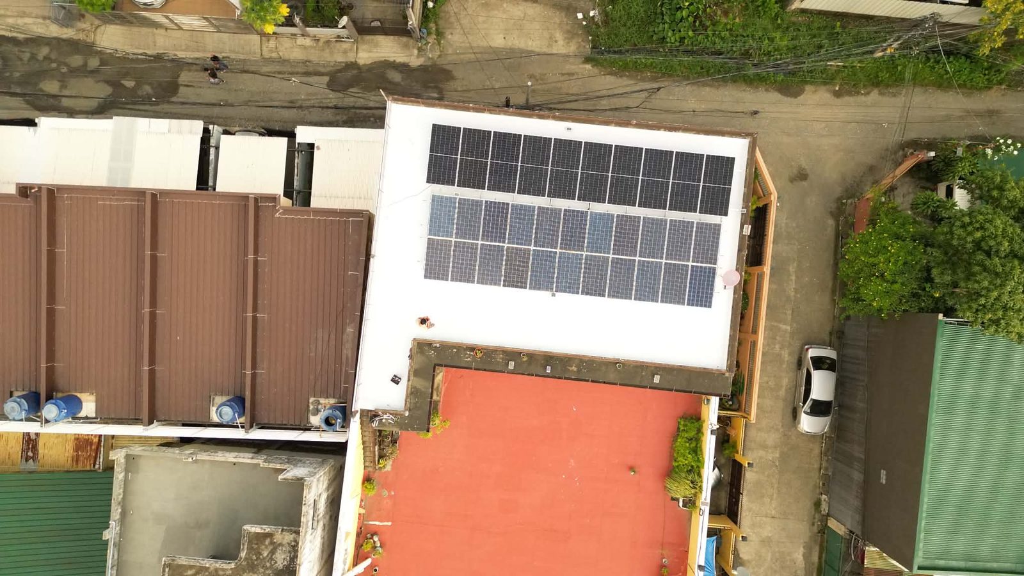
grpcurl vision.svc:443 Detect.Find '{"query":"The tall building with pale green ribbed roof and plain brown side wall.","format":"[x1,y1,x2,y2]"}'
[829,308,1024,576]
